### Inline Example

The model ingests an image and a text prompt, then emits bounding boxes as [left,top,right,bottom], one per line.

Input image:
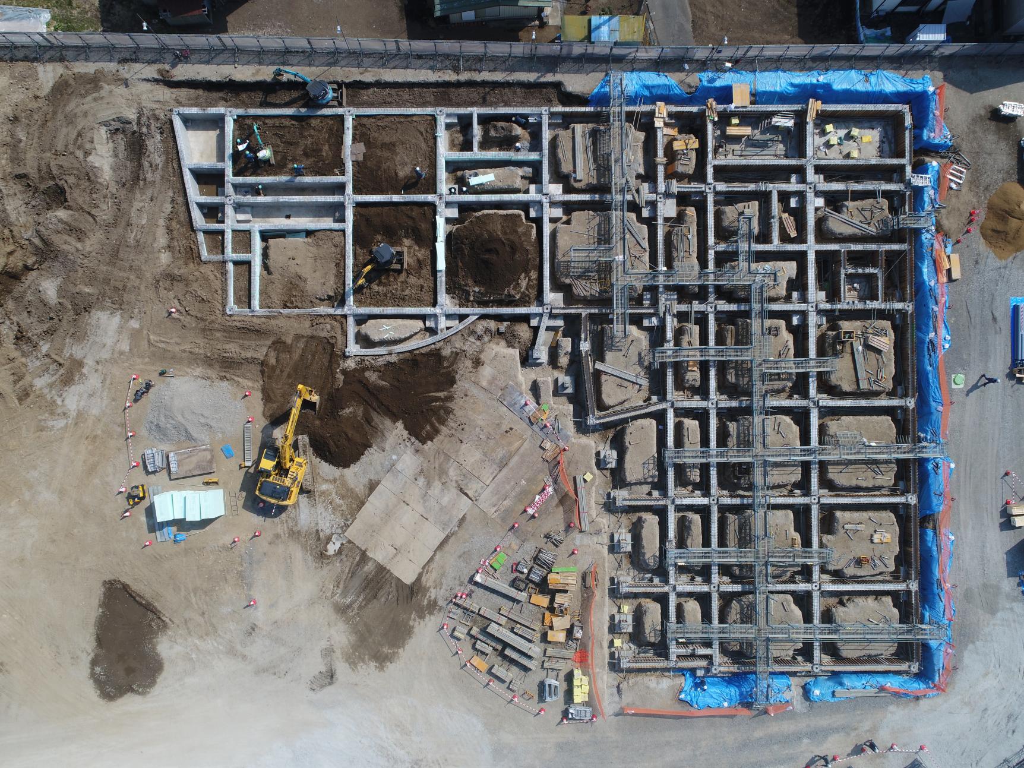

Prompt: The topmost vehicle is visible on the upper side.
[273,61,343,107]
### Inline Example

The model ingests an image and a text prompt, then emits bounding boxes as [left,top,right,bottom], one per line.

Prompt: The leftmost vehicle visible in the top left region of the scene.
[251,119,283,167]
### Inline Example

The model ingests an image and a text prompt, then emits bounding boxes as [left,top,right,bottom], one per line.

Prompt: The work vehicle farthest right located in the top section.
[353,242,412,296]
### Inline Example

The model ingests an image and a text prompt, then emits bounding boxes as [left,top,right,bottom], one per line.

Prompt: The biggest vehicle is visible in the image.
[250,380,325,507]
